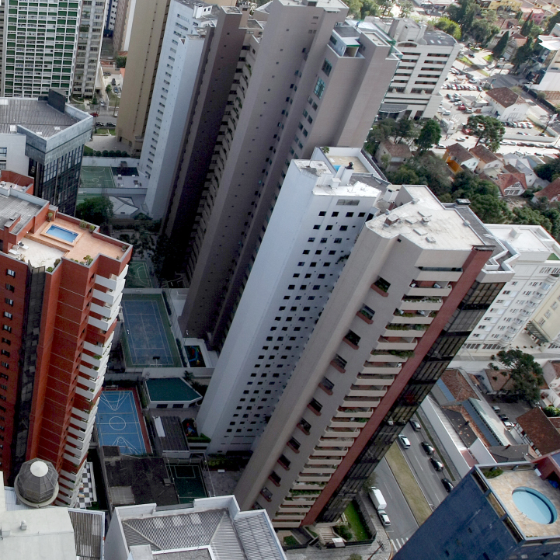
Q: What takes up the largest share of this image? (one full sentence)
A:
For the most part, this view shows buildings.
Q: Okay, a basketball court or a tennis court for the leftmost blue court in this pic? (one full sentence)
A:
The leftmost blue court appears to be a basketball court.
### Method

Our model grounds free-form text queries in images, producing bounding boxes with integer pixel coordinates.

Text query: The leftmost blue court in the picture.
[97,384,151,462]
